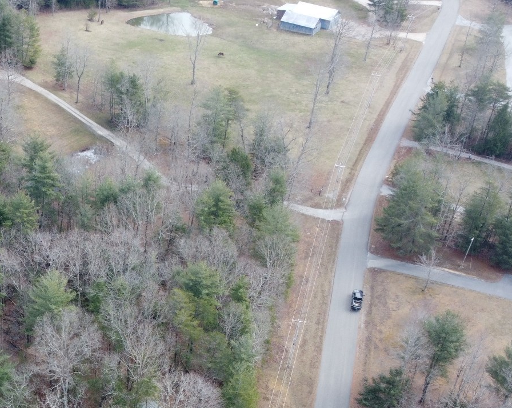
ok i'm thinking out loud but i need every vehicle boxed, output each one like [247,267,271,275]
[352,291,365,310]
